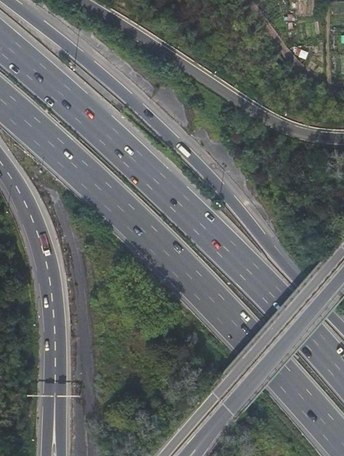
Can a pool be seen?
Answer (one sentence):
No, the scene contains no pool.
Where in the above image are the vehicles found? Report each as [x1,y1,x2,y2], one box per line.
[39,232,52,257]
[130,176,140,186]
[211,240,222,250]
[272,302,280,310]
[204,212,215,222]
[124,146,134,156]
[302,346,312,358]
[114,150,124,159]
[240,323,250,334]
[240,312,250,322]
[168,198,178,207]
[86,110,96,119]
[44,96,54,106]
[335,346,344,356]
[34,72,44,82]
[9,64,20,74]
[176,143,193,160]
[62,100,72,110]
[62,150,74,160]
[44,296,48,308]
[307,410,318,421]
[142,108,154,118]
[172,242,183,252]
[44,340,50,350]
